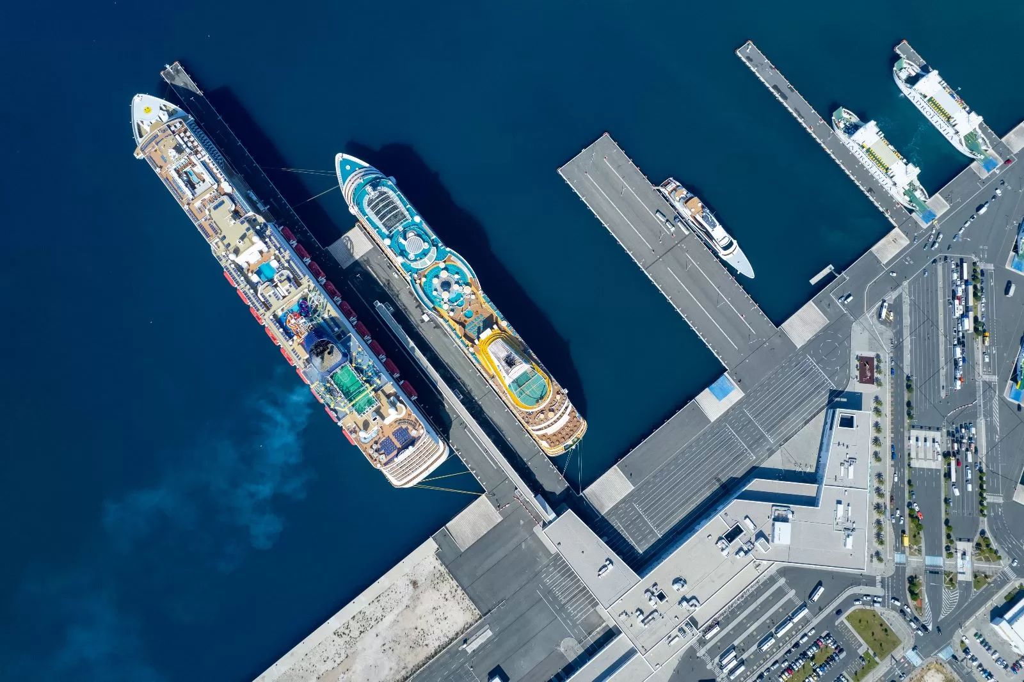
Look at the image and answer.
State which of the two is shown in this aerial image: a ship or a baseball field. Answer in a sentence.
The image shows a ship.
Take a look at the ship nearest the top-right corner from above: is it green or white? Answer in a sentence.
The color of the ship nearest the top-right corner is white.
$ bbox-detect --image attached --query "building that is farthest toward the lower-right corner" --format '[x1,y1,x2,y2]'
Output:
[985,587,1024,663]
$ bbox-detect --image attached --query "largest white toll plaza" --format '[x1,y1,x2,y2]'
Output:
[907,431,938,468]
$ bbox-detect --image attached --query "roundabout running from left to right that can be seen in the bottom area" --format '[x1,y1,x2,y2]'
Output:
[907,656,964,682]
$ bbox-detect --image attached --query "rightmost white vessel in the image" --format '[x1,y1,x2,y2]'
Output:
[891,55,998,173]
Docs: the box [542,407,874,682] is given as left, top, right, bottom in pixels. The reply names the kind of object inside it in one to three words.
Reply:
building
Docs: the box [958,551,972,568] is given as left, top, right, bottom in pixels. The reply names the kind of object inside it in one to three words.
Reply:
toll station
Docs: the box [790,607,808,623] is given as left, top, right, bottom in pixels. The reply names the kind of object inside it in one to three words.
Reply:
vehicle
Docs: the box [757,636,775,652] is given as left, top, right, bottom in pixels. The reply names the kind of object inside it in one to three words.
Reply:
vehicle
